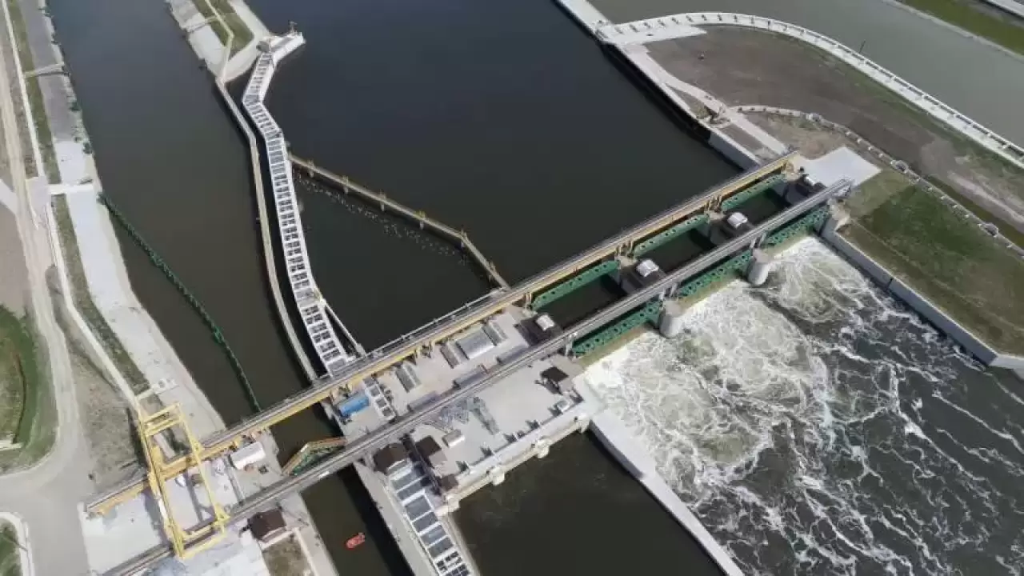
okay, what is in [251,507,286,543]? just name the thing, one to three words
shed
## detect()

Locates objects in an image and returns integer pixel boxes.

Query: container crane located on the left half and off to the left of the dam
[126,401,234,562]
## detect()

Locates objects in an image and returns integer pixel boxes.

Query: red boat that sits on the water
[345,532,363,548]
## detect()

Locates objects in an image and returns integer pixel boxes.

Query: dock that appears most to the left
[287,154,506,289]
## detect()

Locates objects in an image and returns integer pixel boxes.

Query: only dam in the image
[321,166,852,576]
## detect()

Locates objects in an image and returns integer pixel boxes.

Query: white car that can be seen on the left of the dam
[172,476,193,491]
